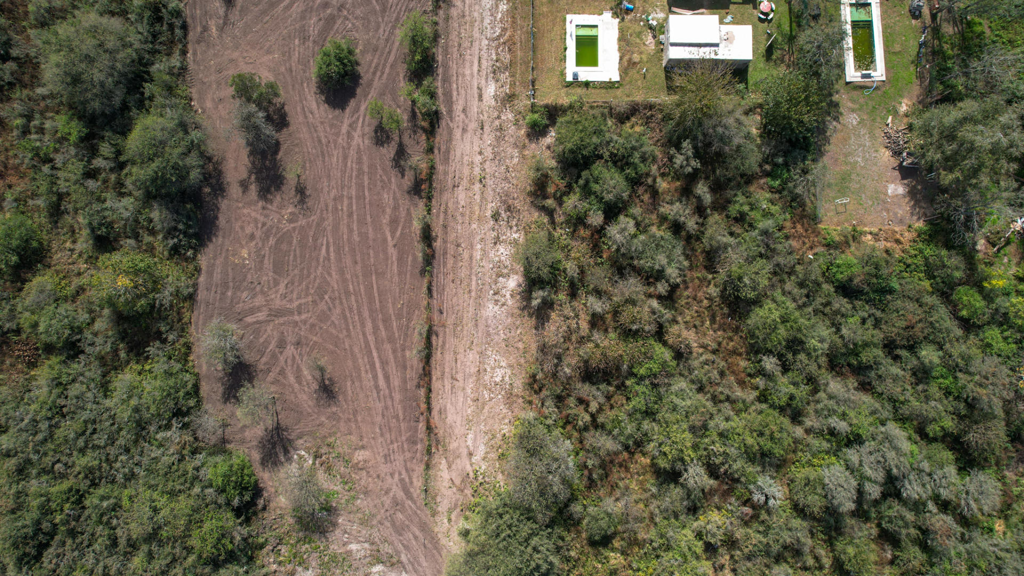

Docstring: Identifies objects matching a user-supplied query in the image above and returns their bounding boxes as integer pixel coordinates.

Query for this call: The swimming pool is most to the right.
[841,0,887,82]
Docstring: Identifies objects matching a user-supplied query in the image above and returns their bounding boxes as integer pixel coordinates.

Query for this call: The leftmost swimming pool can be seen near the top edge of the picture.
[566,11,619,81]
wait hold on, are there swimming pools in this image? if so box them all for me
[566,11,619,81]
[841,0,887,82]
